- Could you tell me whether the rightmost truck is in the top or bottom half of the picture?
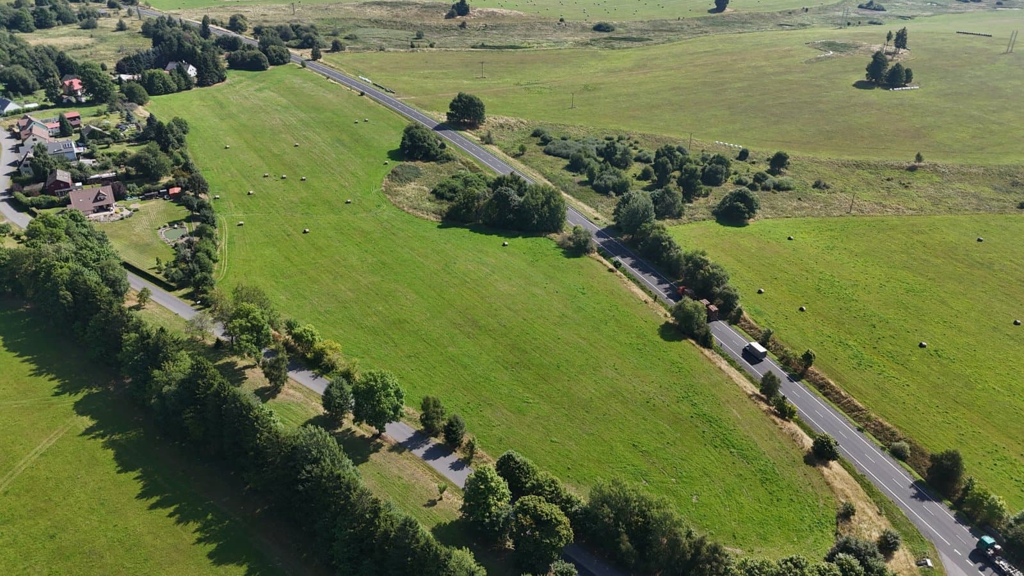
bottom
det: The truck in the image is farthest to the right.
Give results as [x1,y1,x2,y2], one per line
[970,534,1020,576]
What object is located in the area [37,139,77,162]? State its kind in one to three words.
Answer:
house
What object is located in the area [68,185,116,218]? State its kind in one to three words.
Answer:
house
